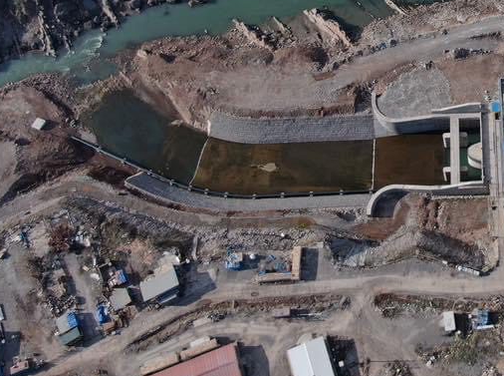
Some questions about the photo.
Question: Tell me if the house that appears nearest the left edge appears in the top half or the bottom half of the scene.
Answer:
bottom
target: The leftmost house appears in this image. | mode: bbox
[58,312,89,345]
